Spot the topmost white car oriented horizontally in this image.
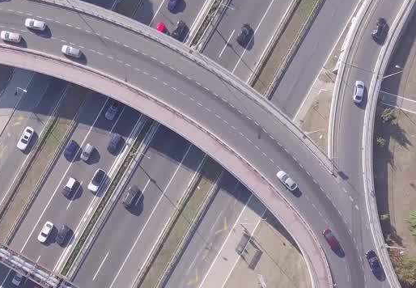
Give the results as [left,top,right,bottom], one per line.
[24,18,46,31]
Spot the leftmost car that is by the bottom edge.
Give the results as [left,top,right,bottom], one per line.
[11,274,24,288]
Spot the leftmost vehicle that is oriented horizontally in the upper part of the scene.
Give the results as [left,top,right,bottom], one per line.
[0,31,22,43]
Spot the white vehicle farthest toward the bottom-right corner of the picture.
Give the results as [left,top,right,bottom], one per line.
[276,170,297,191]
